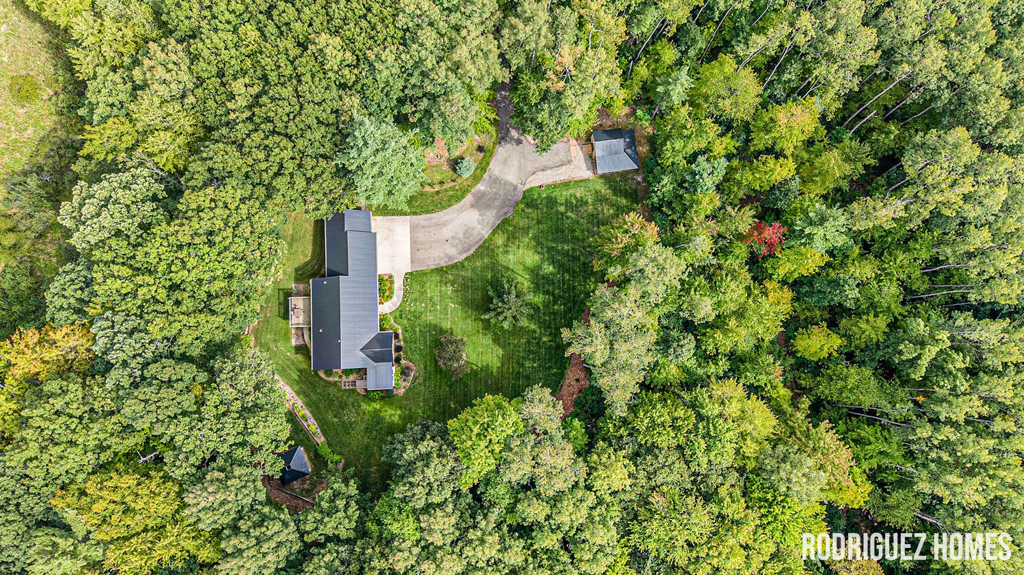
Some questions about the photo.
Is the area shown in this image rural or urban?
rural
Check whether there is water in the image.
No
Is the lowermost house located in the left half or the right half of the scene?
left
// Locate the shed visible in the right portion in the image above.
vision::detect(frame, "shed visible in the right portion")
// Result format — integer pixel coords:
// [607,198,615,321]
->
[591,128,639,176]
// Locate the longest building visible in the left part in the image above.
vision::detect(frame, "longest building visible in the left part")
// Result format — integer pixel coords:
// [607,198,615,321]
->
[310,209,396,391]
